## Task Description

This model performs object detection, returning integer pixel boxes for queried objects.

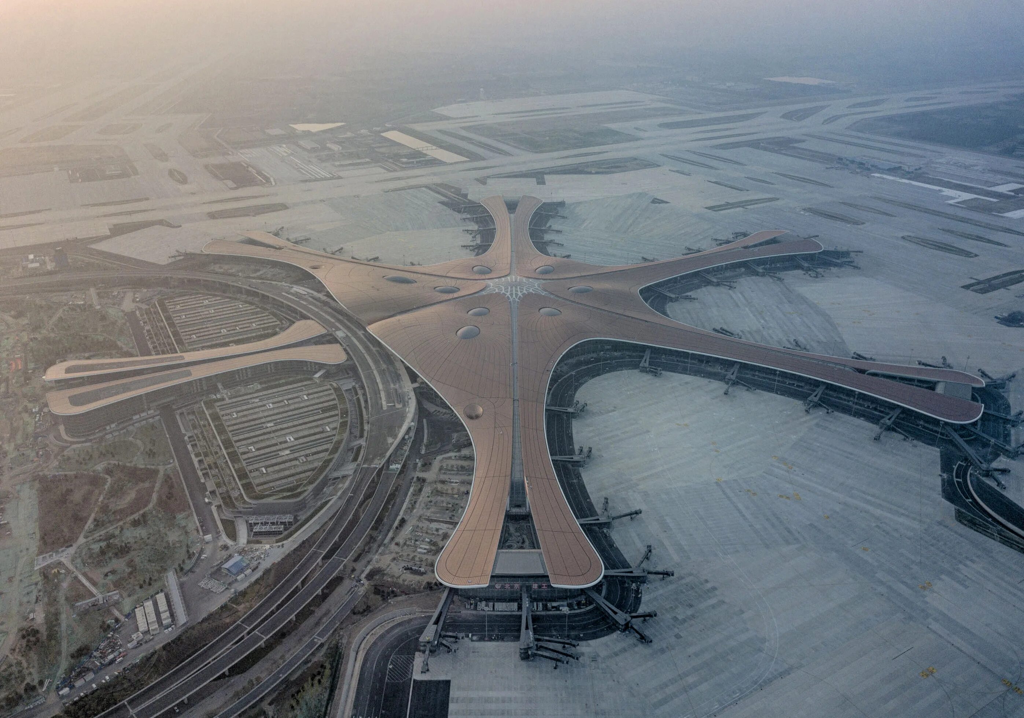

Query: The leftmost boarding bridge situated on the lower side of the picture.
[421,588,469,678]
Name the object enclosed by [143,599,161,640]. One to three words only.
building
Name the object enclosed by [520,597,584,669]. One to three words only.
jet bridge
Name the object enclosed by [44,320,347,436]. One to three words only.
building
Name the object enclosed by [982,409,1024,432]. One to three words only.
jet bridge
